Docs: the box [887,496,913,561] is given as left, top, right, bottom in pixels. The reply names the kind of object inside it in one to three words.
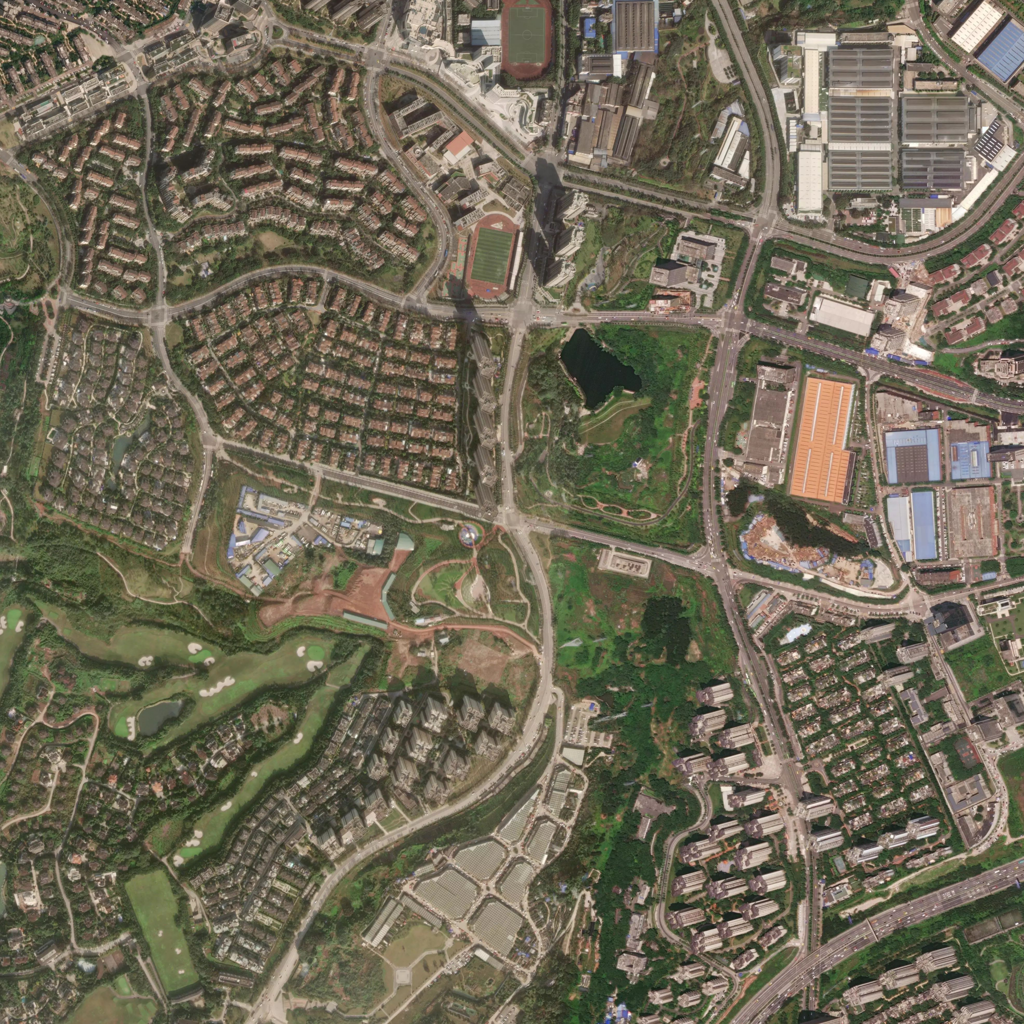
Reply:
shed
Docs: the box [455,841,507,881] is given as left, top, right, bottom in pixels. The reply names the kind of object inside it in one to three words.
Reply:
greenhouse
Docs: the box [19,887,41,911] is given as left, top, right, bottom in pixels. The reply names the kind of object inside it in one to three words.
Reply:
house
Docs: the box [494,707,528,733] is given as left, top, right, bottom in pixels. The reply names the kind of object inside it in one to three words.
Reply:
building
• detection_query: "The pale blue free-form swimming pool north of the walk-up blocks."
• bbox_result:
[780,623,813,645]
